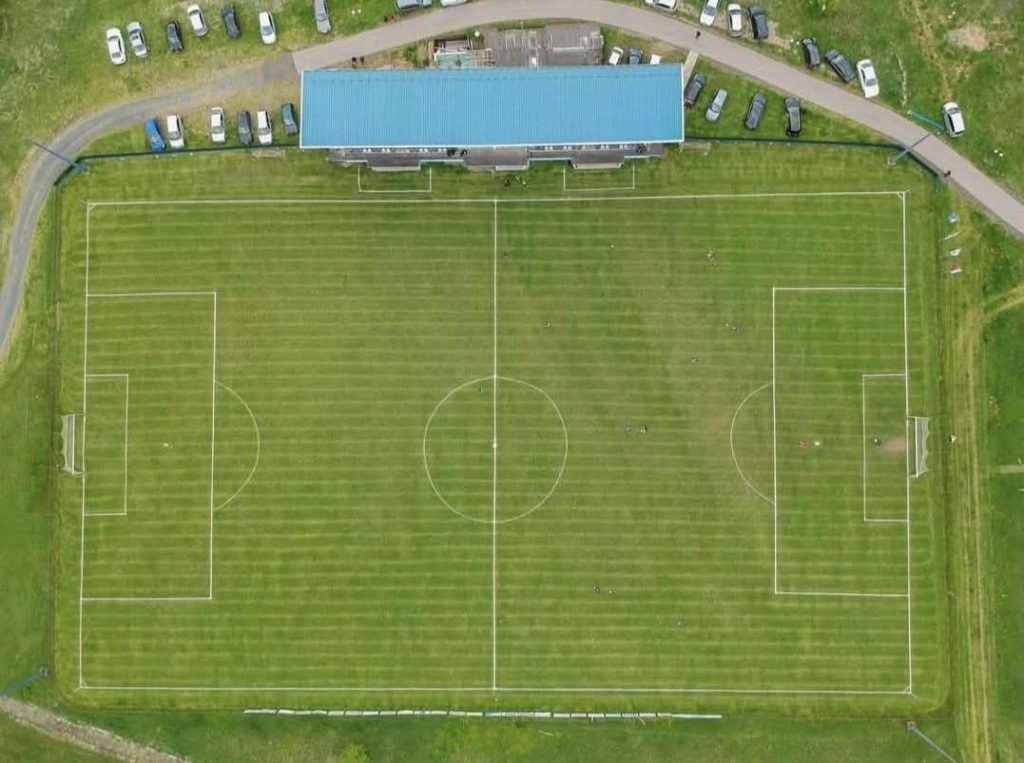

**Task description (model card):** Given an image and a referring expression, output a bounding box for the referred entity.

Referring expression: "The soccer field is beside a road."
[58,147,946,714]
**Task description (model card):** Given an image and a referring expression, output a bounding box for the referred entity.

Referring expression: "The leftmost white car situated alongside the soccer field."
[164,113,187,149]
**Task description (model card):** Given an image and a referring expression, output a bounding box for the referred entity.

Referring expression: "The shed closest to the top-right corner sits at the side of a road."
[545,26,603,67]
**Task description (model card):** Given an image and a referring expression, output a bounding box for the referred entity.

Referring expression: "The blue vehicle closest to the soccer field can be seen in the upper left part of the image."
[143,116,167,154]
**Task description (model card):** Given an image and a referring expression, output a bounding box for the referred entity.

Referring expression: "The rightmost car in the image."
[941,101,967,139]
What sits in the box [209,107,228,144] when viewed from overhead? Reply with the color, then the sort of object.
white car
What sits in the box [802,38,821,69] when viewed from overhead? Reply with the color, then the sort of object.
gray car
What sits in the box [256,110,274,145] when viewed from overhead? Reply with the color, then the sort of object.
white car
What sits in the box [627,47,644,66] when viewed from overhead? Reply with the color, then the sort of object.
gray car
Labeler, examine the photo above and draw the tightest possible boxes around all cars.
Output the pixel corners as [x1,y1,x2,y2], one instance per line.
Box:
[189,4,209,38]
[641,0,679,15]
[106,28,128,66]
[209,107,228,144]
[223,5,242,40]
[856,58,880,100]
[725,3,744,39]
[257,10,278,46]
[281,103,300,136]
[236,110,255,146]
[782,96,804,136]
[748,5,769,41]
[742,91,767,131]
[143,116,167,154]
[627,47,644,66]
[165,20,185,54]
[647,54,662,65]
[396,0,434,14]
[699,0,722,28]
[941,101,967,139]
[685,73,706,110]
[164,113,187,149]
[705,87,731,124]
[605,45,625,66]
[127,20,151,60]
[256,110,274,145]
[825,48,856,85]
[802,38,821,69]
[312,0,333,35]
